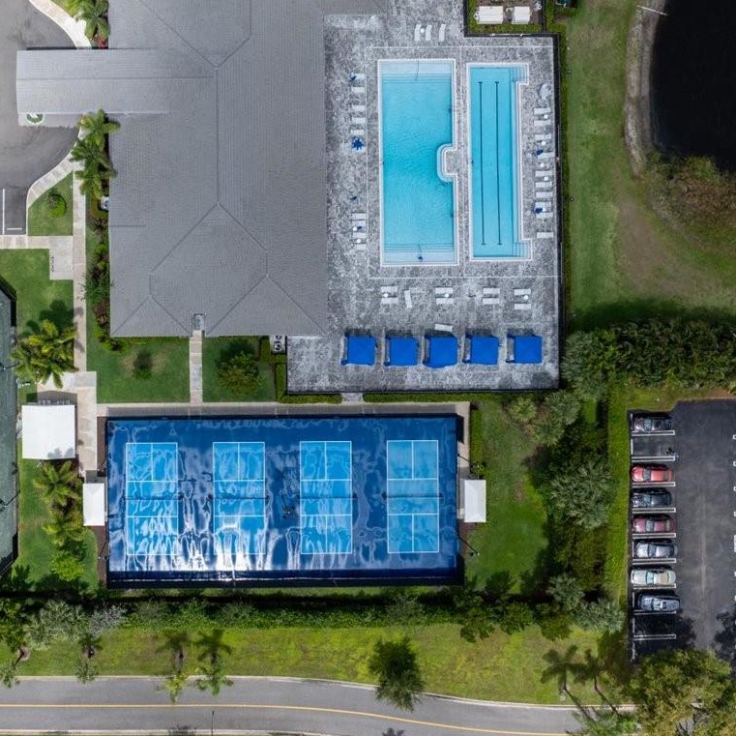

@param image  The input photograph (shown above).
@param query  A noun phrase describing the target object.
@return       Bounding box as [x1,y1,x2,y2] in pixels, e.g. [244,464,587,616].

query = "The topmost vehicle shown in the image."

[626,415,675,434]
